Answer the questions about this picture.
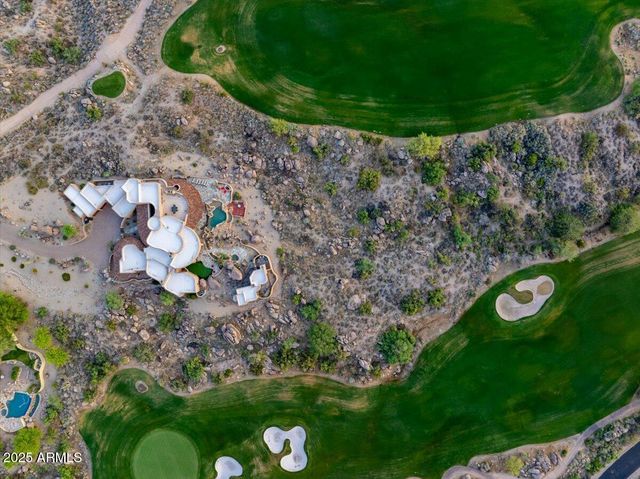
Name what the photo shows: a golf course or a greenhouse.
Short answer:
golf course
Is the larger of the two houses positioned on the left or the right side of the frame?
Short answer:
left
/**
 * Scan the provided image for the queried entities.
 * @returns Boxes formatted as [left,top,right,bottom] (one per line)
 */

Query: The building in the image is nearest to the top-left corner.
[64,178,206,297]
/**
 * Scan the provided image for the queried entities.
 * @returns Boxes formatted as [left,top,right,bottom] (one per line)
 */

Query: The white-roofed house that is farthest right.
[233,265,269,305]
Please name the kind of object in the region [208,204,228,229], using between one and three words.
swimming pool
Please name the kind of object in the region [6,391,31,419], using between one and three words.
swimming pool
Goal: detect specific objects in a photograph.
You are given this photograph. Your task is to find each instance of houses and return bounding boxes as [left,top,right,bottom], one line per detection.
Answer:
[64,178,206,297]
[233,265,269,305]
